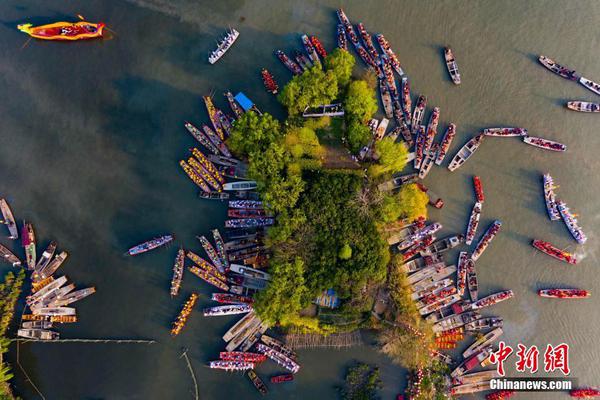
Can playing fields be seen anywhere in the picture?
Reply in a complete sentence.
No, there appears to be no playing field in this shot.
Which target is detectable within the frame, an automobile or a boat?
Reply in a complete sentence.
Visible in the photo is a boat.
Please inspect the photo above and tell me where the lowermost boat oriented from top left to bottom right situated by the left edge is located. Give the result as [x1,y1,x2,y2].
[0,243,22,264]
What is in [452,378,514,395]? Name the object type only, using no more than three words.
boat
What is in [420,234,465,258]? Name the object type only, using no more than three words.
boat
